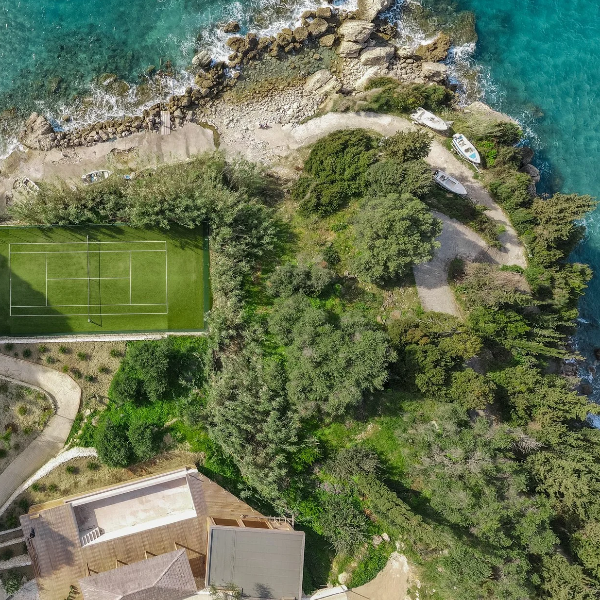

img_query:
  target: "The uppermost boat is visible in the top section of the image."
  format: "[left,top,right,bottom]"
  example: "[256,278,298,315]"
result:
[410,107,453,130]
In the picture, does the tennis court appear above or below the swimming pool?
above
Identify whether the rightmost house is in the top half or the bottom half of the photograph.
bottom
